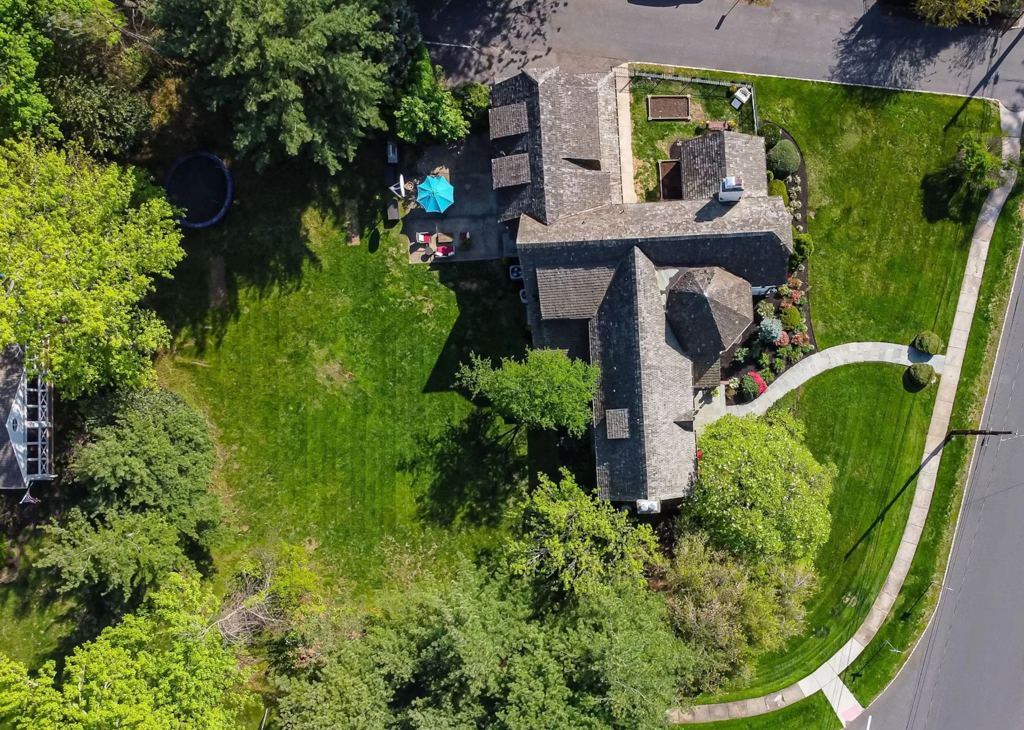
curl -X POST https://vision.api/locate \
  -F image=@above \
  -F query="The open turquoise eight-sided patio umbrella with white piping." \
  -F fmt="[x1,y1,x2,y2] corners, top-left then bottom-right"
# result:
[416,176,454,213]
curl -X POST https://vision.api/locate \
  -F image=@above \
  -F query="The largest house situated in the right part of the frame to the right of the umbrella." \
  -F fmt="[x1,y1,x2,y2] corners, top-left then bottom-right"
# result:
[488,63,793,513]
